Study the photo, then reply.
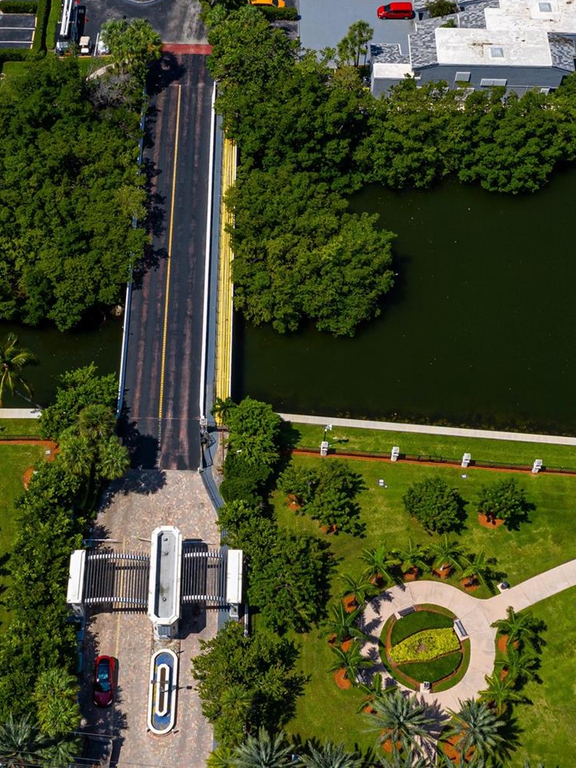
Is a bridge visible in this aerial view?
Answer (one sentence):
Yes, I can see a bridge in this picture.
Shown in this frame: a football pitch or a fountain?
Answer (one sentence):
The one in the frame is a fountain.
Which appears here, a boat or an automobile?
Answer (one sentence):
There is an automobile in the scene.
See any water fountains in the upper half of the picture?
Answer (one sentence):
No, I can find no water fountain in the upper half of the picture.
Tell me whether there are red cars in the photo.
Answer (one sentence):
Yes, a red car appears in the view.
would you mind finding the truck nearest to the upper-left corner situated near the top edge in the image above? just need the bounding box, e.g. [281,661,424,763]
[55,0,80,45]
